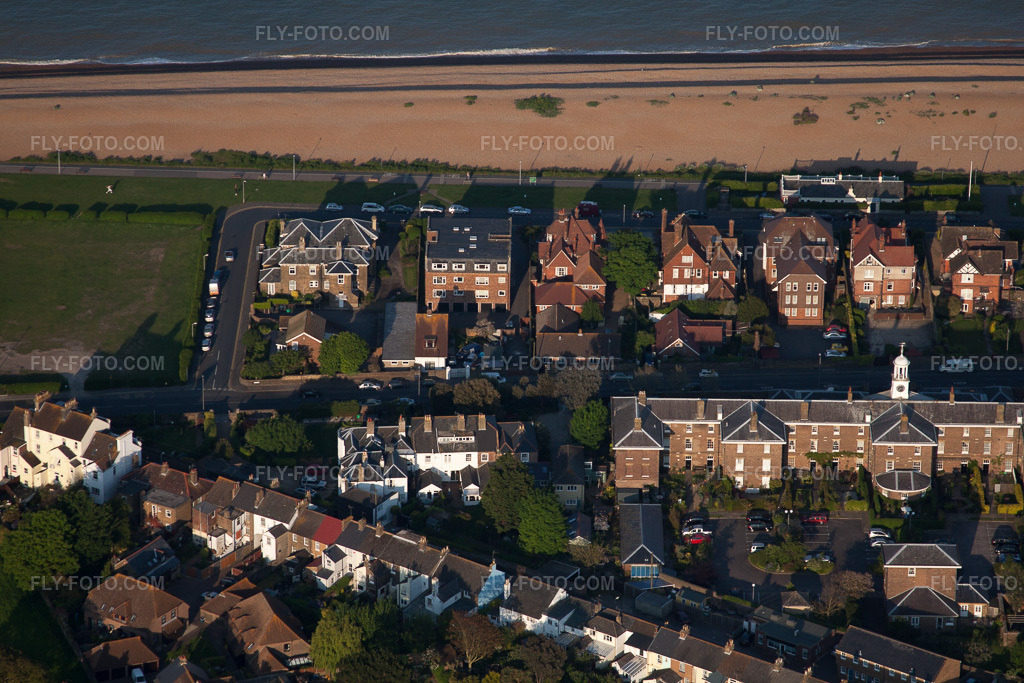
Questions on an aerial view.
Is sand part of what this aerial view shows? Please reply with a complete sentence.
Yes, sand can be seen from above here.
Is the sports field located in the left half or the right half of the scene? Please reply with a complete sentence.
You can find the sports field on the left side of the picture.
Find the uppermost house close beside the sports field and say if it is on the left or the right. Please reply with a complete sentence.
The uppermost house close beside the sports field appears in the left half of the scene.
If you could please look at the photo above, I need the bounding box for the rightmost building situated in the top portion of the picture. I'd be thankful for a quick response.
[935,225,1019,317]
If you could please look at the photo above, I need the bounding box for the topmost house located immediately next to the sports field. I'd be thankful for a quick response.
[258,214,377,306]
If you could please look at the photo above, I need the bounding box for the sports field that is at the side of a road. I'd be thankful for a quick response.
[0,225,201,381]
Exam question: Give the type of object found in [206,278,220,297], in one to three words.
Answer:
vehicle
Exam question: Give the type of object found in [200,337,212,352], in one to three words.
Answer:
vehicle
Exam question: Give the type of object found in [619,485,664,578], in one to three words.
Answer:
building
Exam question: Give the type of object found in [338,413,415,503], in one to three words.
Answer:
house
